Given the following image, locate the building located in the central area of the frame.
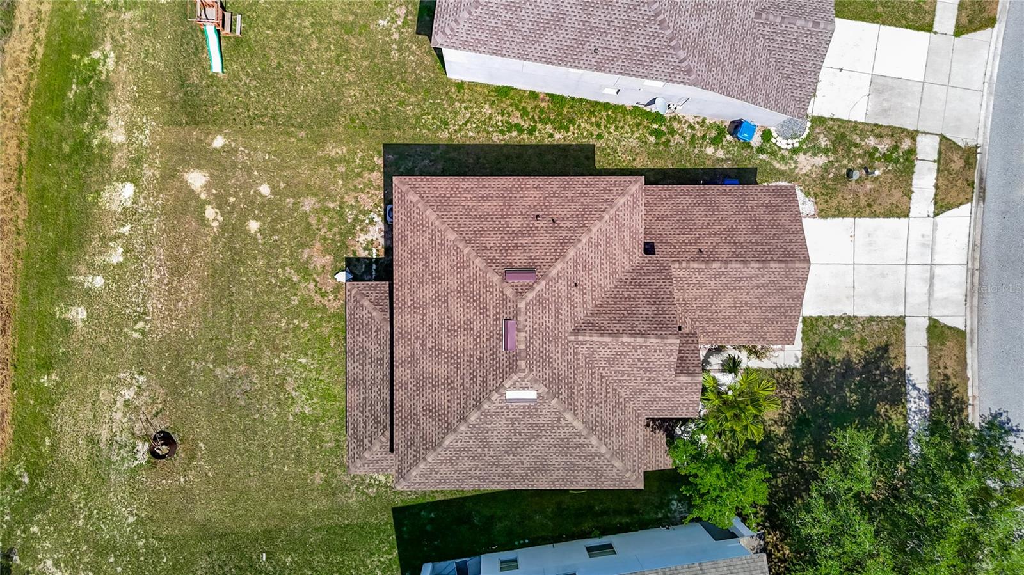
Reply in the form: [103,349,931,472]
[346,176,809,490]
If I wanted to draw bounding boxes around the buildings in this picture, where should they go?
[419,516,772,575]
[432,0,840,127]
[346,176,809,490]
